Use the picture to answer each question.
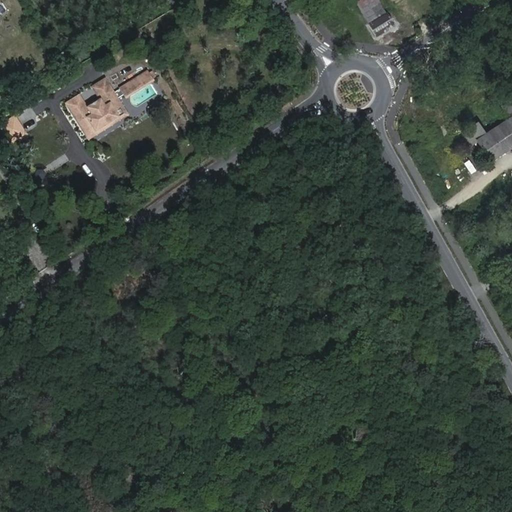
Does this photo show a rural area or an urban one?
rural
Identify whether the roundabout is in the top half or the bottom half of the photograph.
top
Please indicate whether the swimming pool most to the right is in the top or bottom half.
top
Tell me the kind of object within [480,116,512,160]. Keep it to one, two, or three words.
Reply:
house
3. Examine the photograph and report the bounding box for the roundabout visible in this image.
[319,54,392,127]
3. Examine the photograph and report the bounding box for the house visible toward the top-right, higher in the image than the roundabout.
[359,0,402,38]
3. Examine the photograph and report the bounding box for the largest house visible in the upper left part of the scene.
[65,75,130,142]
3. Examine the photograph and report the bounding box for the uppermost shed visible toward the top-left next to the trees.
[118,69,152,97]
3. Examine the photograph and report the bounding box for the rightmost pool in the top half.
[128,82,158,106]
